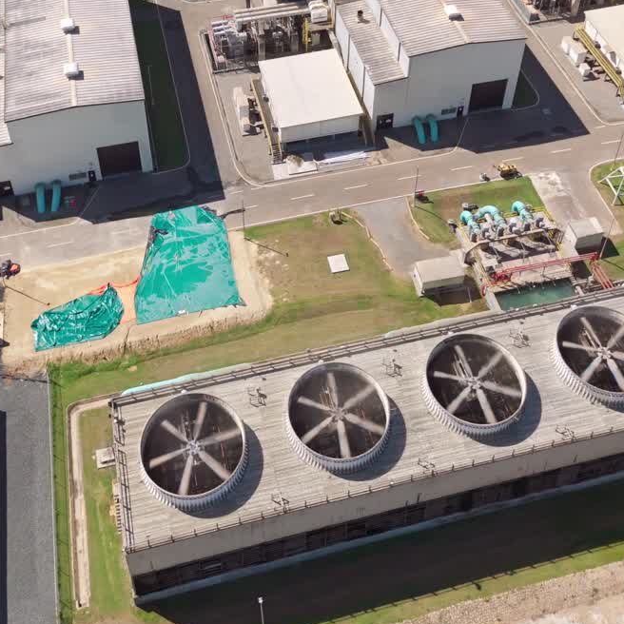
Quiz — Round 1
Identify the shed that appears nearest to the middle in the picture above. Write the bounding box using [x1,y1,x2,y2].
[412,252,468,295]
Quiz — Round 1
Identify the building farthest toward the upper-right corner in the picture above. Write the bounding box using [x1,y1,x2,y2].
[571,0,624,103]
